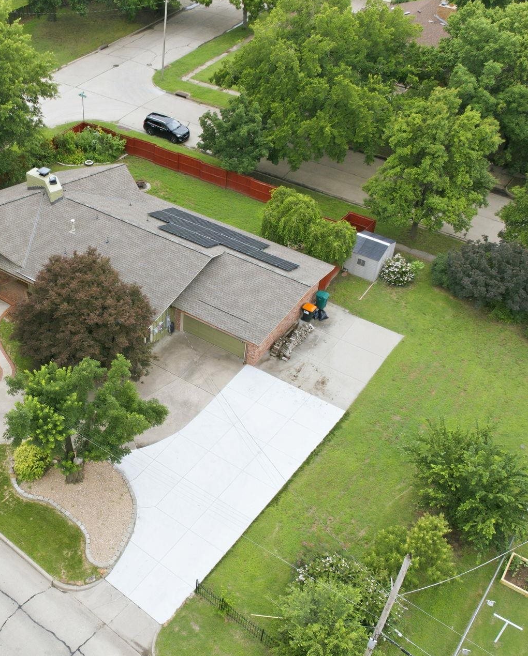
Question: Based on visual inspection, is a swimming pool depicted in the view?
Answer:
No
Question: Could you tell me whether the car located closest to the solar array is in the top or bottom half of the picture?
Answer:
top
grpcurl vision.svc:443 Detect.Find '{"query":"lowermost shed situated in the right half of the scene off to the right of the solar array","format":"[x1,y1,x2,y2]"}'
[346,234,397,280]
